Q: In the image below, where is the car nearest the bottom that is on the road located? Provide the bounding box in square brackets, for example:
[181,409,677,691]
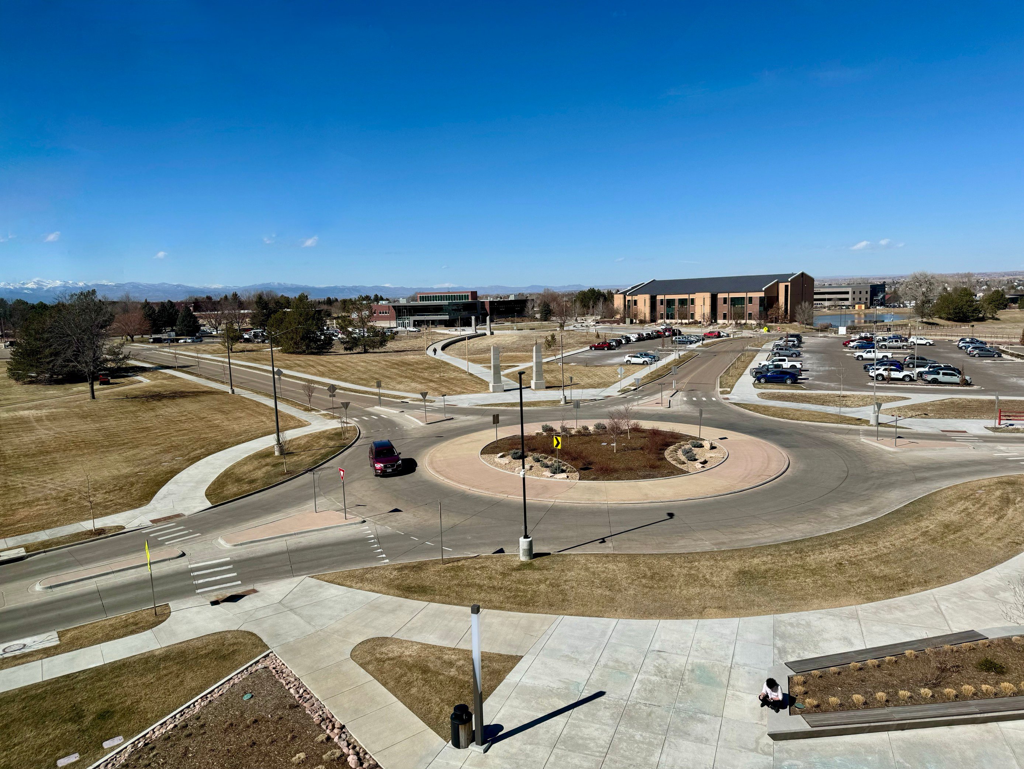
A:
[365,436,402,472]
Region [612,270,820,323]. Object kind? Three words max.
building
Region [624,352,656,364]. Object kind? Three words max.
vehicle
